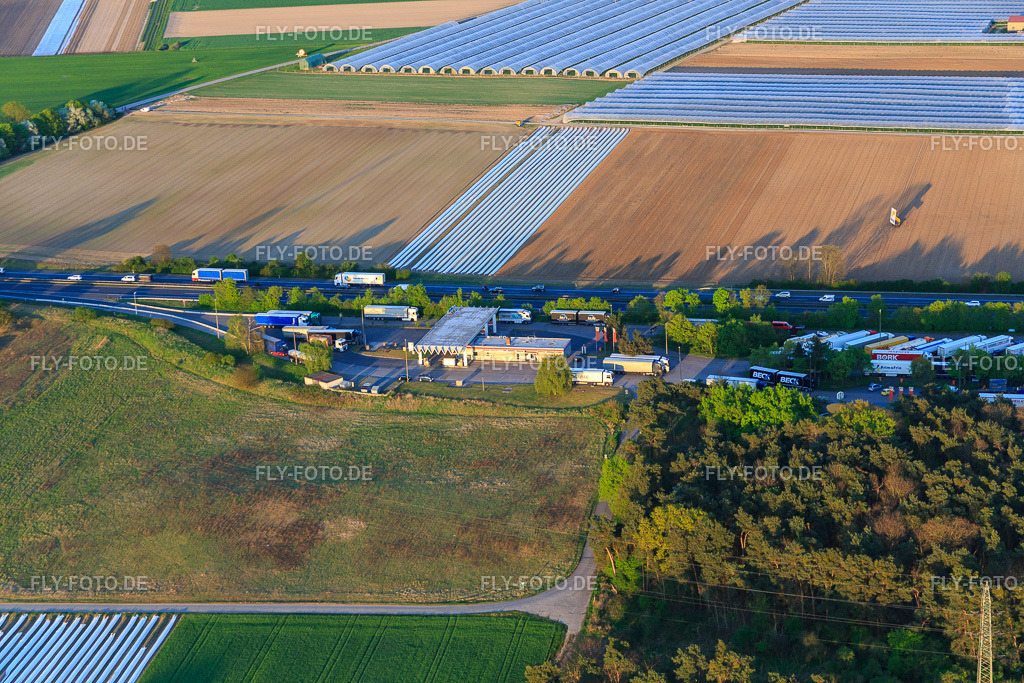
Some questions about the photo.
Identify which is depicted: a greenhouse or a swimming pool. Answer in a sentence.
The image shows a greenhouse.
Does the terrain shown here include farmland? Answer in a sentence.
Yes, there is farmland in the image.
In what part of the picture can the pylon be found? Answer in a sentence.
The pylon appears toward the bottom right of the photo.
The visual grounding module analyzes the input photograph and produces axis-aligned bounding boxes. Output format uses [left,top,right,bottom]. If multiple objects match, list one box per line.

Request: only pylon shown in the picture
[964,580,1009,683]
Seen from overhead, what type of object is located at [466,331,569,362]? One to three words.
building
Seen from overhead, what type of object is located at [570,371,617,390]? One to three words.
vehicle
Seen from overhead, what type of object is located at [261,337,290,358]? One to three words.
truck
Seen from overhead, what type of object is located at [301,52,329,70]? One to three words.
barn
